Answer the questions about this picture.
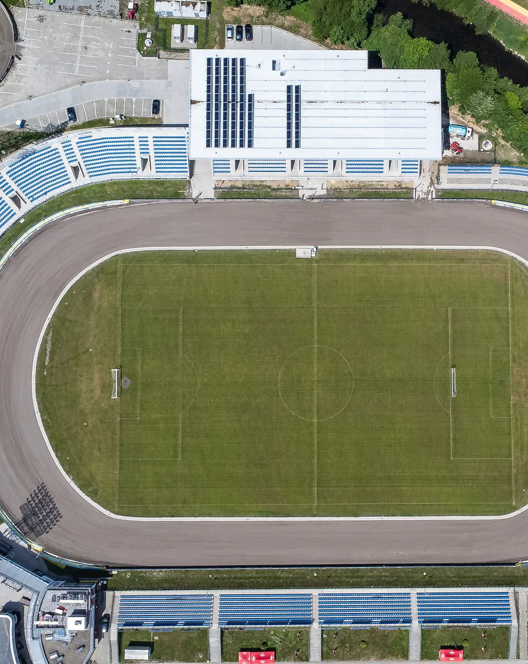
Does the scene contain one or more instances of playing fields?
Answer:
Yes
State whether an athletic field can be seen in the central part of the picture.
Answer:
Yes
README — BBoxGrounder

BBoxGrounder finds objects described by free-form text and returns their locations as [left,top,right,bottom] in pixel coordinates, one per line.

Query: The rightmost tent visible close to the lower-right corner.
[438,647,463,661]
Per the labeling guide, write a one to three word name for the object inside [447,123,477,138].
vehicle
